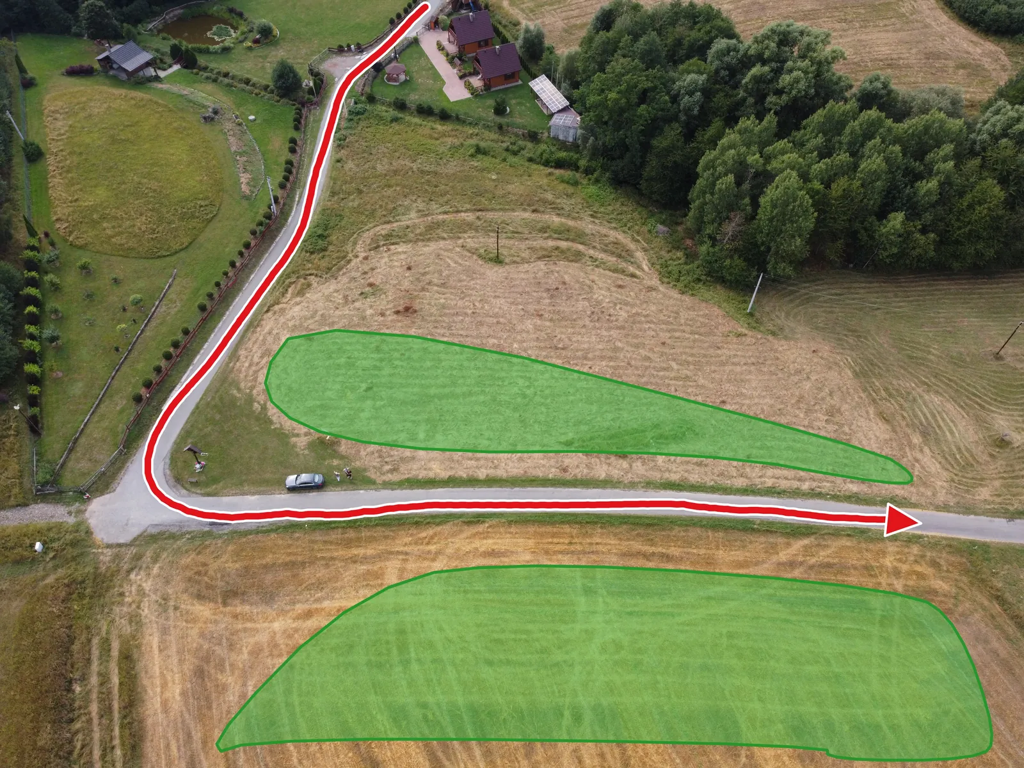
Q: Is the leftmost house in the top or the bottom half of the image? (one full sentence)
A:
It is in the top half that the leftmost house appears.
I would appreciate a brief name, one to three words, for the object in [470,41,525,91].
house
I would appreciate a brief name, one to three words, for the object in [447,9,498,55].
house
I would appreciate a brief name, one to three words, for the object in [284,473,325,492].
car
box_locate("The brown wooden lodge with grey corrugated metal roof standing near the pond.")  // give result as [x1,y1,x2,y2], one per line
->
[102,36,169,80]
